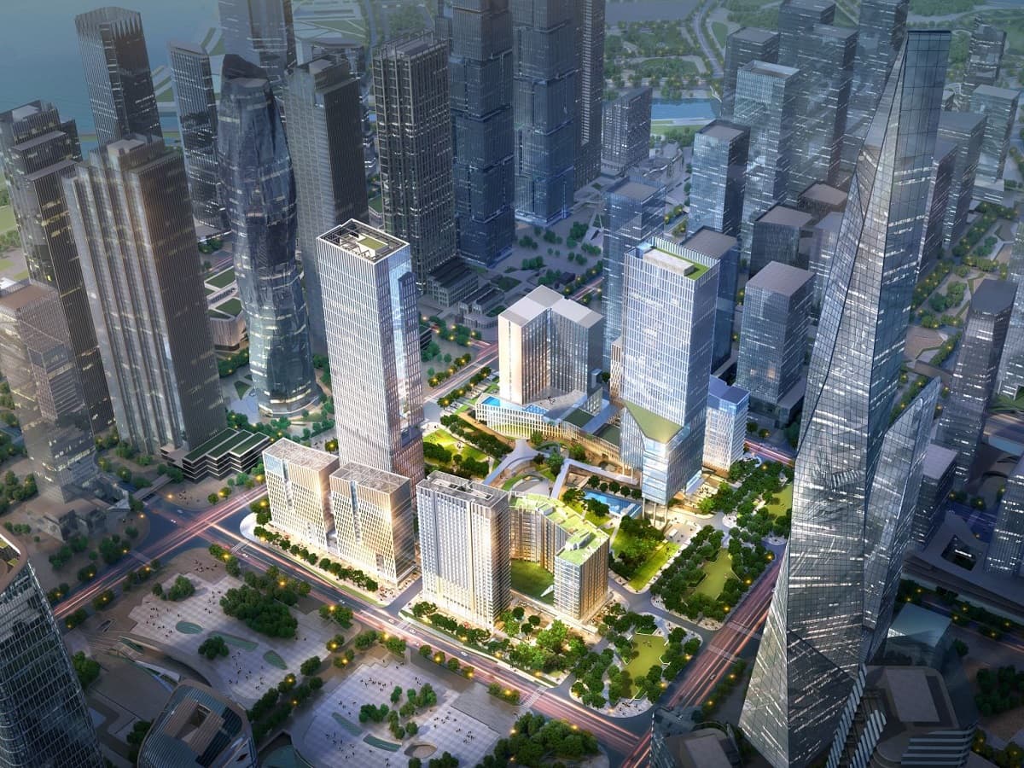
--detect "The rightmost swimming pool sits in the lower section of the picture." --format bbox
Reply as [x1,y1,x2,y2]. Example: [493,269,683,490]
[584,488,643,519]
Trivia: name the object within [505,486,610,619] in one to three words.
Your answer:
building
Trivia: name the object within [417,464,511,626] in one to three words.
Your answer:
building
